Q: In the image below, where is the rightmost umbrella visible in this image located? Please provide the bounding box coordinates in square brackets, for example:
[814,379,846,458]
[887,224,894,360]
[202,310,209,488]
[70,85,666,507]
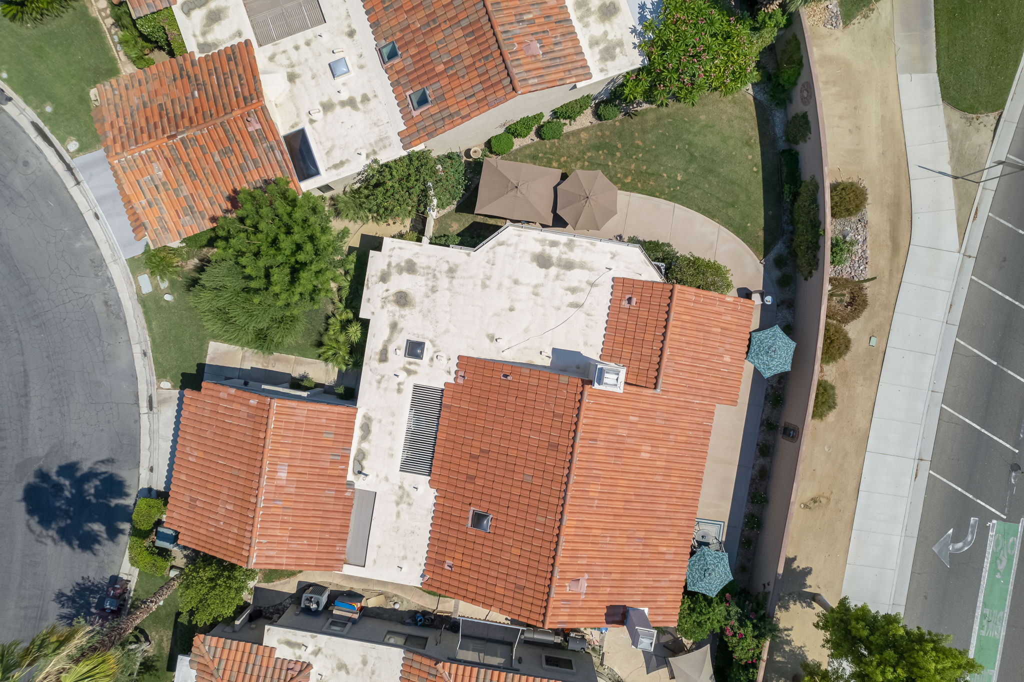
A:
[746,325,797,378]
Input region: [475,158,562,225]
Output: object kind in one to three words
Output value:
umbrella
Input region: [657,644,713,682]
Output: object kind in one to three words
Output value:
umbrella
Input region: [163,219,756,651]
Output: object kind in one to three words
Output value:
house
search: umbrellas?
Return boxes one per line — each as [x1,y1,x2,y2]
[687,546,733,598]
[557,170,617,230]
[657,644,713,682]
[746,325,797,378]
[475,158,562,225]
